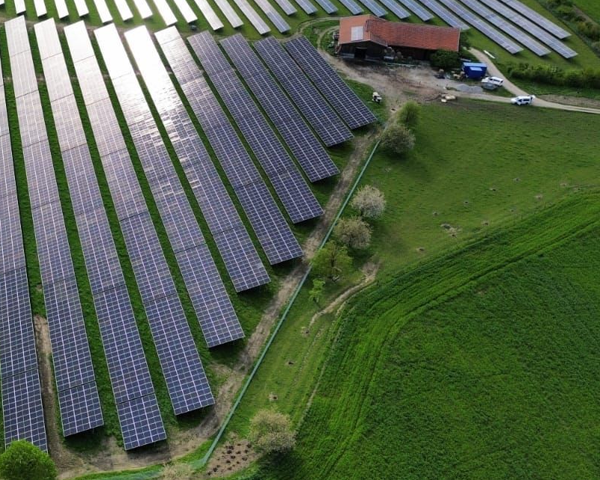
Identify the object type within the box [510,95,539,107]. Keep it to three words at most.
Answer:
vehicle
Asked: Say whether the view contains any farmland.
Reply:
Yes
